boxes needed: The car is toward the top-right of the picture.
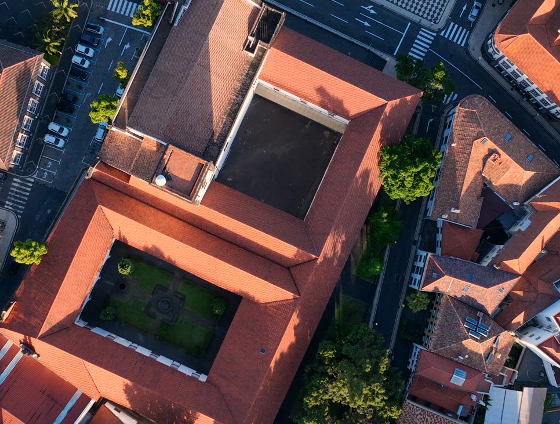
[466,0,482,25]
